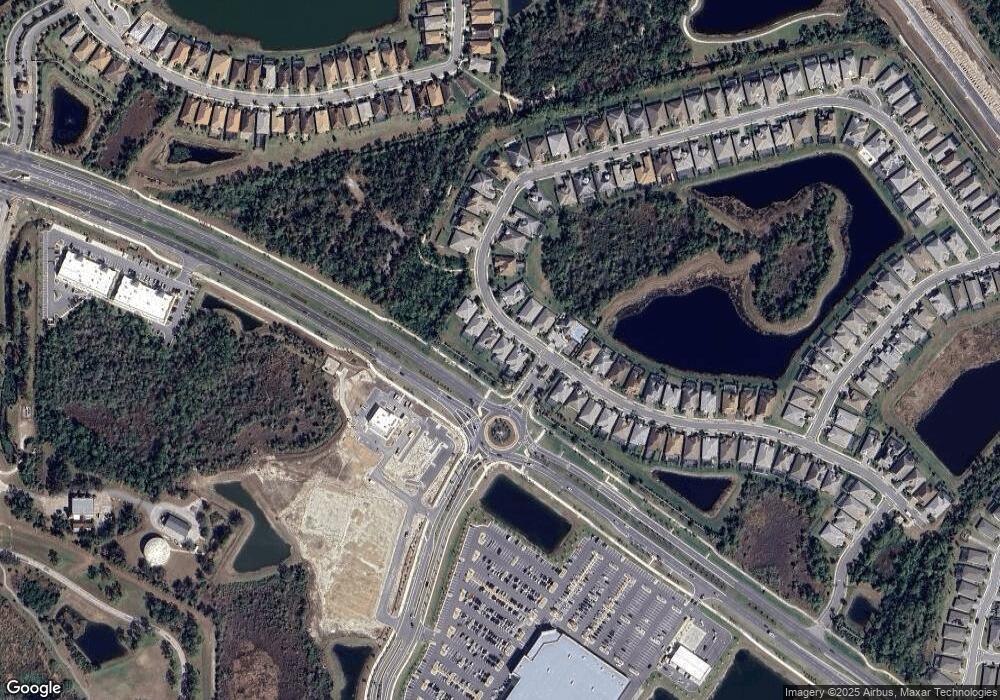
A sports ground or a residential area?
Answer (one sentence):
The picture captures a residential area.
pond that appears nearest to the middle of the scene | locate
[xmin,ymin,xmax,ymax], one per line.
[480,474,571,553]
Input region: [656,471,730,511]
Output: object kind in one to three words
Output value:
pond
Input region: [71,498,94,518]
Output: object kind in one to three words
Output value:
barn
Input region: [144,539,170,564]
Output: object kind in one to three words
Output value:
water tank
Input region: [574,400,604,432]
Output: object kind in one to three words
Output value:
house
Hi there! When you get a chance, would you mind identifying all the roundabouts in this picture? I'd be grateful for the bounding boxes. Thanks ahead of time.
[466,404,528,477]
